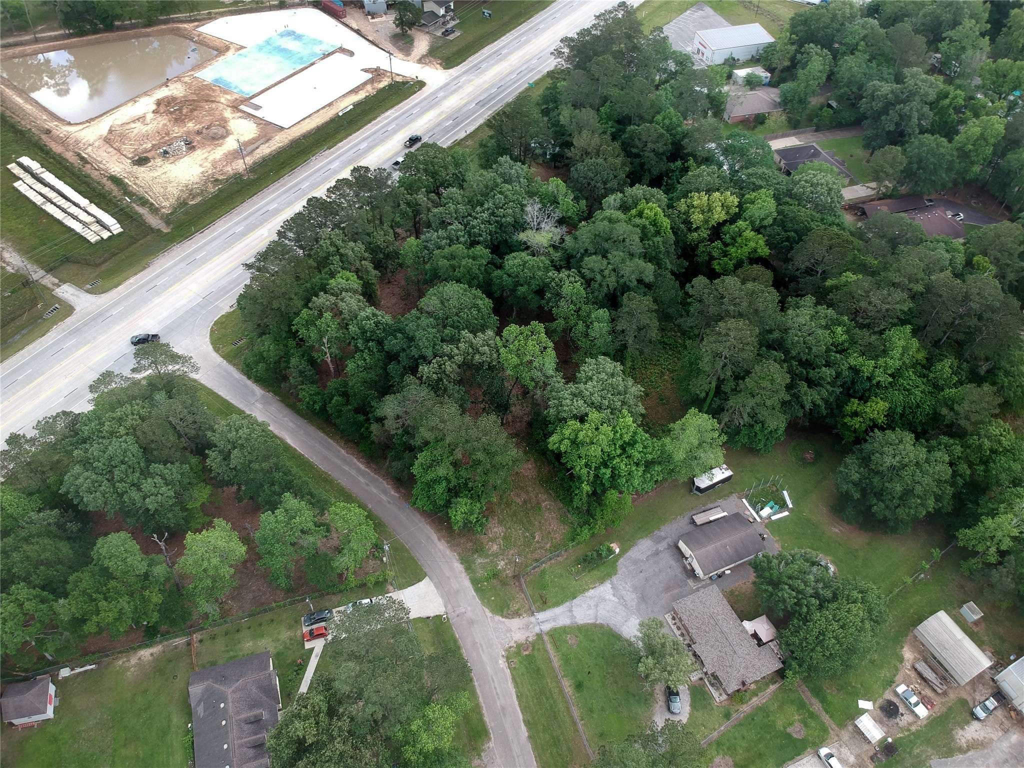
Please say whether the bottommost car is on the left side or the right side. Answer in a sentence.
You can find the bottommost car on the right side of the picture.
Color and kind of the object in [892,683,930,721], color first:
white car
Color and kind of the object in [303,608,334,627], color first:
gray car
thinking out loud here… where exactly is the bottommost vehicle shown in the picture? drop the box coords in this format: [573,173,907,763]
[815,745,843,768]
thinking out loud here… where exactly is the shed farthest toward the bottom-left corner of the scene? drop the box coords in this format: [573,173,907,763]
[2,677,63,726]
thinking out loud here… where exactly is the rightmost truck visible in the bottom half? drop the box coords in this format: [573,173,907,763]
[970,691,1007,722]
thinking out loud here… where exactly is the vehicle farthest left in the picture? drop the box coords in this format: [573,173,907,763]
[131,333,161,346]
